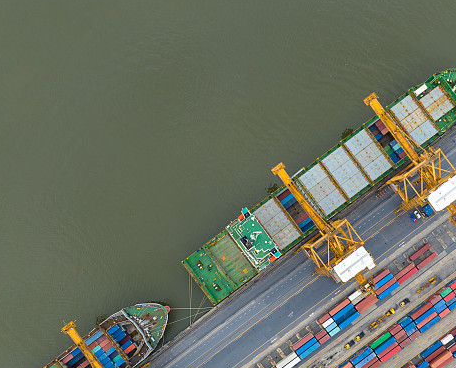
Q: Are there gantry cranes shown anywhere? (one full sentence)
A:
Yes, a gantry crane can be made out from above.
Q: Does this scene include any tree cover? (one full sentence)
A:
No, there is no tree cover in the image.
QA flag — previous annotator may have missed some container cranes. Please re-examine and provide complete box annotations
[268,159,379,302]
[56,316,108,368]
[364,88,456,230]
